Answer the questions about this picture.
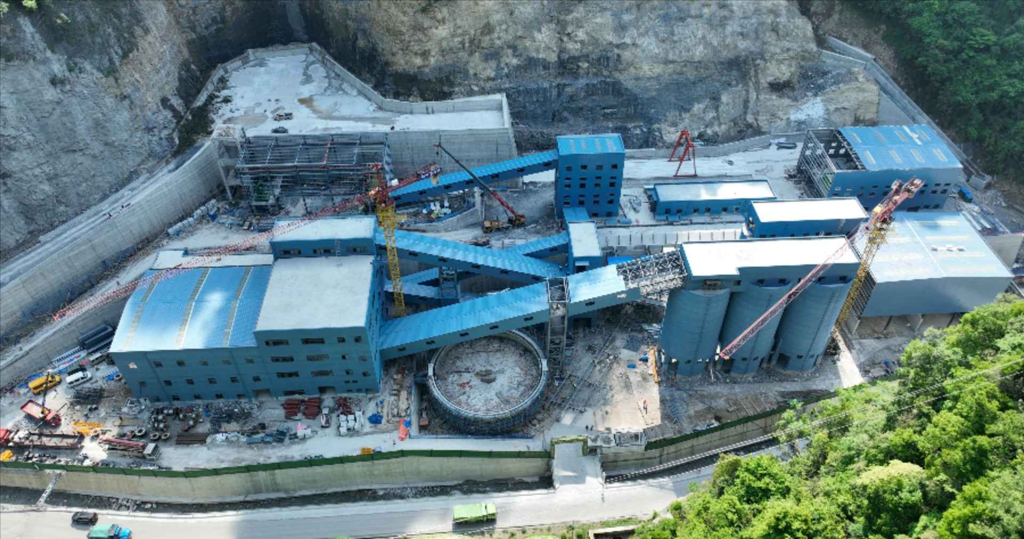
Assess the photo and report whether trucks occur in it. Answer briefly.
Yes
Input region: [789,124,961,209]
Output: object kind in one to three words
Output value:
building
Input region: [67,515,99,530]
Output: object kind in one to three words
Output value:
car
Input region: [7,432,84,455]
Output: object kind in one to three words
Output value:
trailer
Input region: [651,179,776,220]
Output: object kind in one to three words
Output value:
shed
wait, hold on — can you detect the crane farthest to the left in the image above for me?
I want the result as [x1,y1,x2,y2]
[45,161,442,348]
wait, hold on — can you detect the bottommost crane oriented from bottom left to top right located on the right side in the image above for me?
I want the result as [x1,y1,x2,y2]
[713,172,922,383]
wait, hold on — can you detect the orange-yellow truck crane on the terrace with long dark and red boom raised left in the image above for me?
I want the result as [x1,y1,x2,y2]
[434,143,530,234]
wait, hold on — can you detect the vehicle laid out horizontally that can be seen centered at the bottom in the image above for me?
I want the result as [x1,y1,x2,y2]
[451,504,501,529]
